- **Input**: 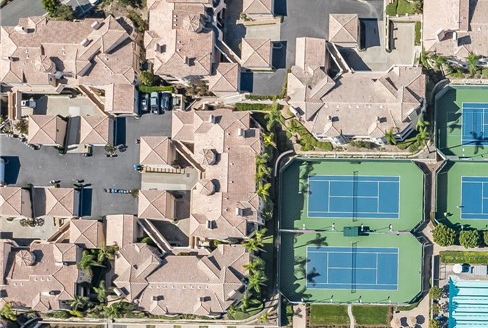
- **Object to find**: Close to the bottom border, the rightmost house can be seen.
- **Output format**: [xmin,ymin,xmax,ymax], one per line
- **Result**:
[108,245,257,322]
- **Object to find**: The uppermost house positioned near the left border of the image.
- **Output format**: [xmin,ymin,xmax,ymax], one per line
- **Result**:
[0,10,147,117]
